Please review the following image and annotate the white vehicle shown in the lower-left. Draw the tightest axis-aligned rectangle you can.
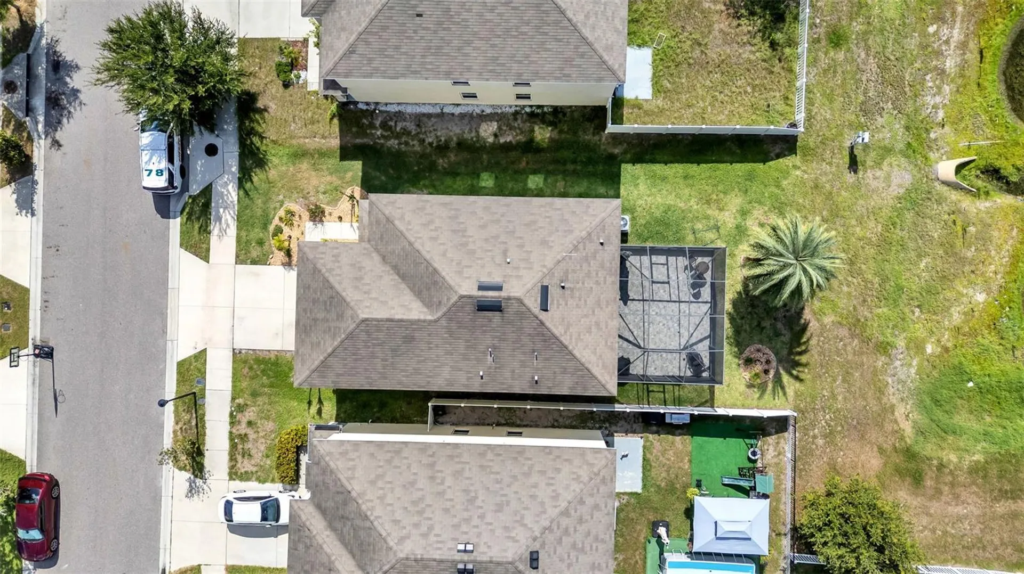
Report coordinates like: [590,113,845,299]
[218,487,303,529]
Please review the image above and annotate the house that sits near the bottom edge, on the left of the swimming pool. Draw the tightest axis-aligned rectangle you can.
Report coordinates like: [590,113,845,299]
[287,414,618,574]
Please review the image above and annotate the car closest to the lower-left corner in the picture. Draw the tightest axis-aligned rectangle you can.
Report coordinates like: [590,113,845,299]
[15,473,64,561]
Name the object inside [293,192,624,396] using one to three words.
house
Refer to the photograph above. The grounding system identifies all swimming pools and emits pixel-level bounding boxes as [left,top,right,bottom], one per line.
[656,543,756,574]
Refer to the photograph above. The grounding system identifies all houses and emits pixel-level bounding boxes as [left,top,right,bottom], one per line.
[299,0,624,112]
[287,414,618,574]
[293,192,624,396]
